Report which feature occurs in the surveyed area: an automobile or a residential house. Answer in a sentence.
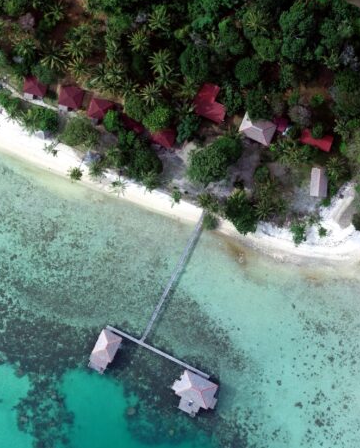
I can see a residential house in this picture.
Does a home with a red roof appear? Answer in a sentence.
Yes, you can see a home with a red roof in this photo.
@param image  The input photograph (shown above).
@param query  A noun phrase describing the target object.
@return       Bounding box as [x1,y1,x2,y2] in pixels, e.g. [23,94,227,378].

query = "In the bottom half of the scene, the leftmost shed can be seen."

[88,329,123,376]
